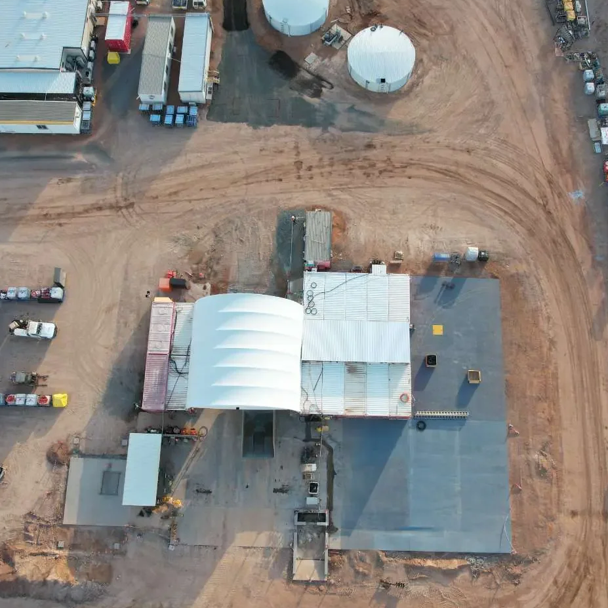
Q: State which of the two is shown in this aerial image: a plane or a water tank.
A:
water tank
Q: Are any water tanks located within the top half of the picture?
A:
Yes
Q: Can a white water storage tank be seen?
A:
Yes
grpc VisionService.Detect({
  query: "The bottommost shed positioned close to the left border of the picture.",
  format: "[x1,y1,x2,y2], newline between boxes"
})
[0,101,83,133]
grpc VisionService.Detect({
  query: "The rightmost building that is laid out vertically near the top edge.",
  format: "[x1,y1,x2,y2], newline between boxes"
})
[178,12,223,108]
